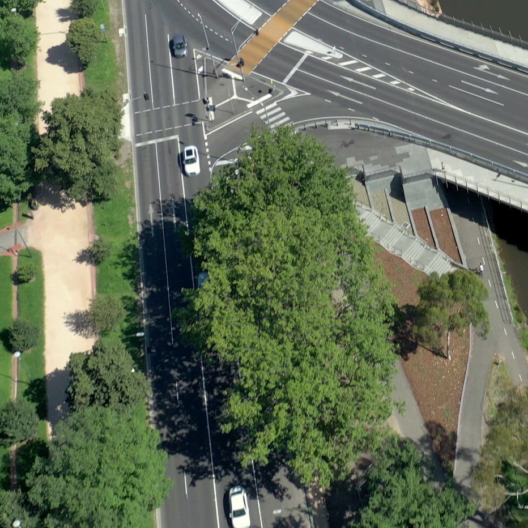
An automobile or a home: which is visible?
automobile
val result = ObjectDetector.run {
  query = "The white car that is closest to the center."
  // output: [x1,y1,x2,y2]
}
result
[183,143,201,174]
